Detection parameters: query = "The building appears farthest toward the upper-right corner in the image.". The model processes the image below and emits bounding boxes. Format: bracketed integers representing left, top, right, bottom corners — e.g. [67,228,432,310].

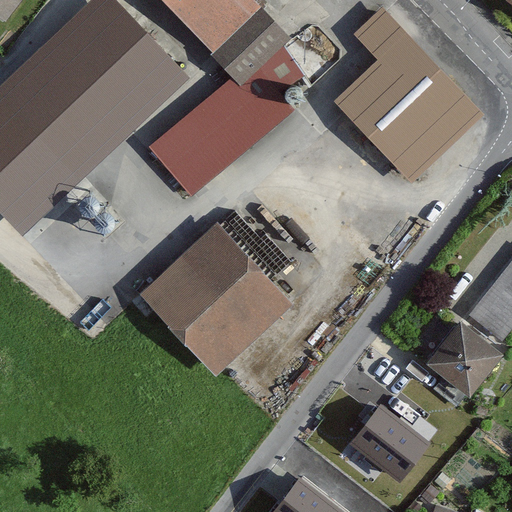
[337,10,484,184]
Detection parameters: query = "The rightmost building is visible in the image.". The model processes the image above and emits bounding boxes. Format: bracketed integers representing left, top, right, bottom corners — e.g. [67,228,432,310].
[469,258,512,341]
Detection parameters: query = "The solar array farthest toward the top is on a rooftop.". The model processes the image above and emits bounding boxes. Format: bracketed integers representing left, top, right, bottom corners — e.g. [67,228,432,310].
[360,429,412,471]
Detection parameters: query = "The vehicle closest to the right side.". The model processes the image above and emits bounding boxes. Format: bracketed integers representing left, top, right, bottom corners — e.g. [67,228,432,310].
[452,274,474,300]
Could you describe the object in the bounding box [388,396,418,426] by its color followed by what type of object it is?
white camper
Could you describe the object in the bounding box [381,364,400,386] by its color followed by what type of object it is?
white car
